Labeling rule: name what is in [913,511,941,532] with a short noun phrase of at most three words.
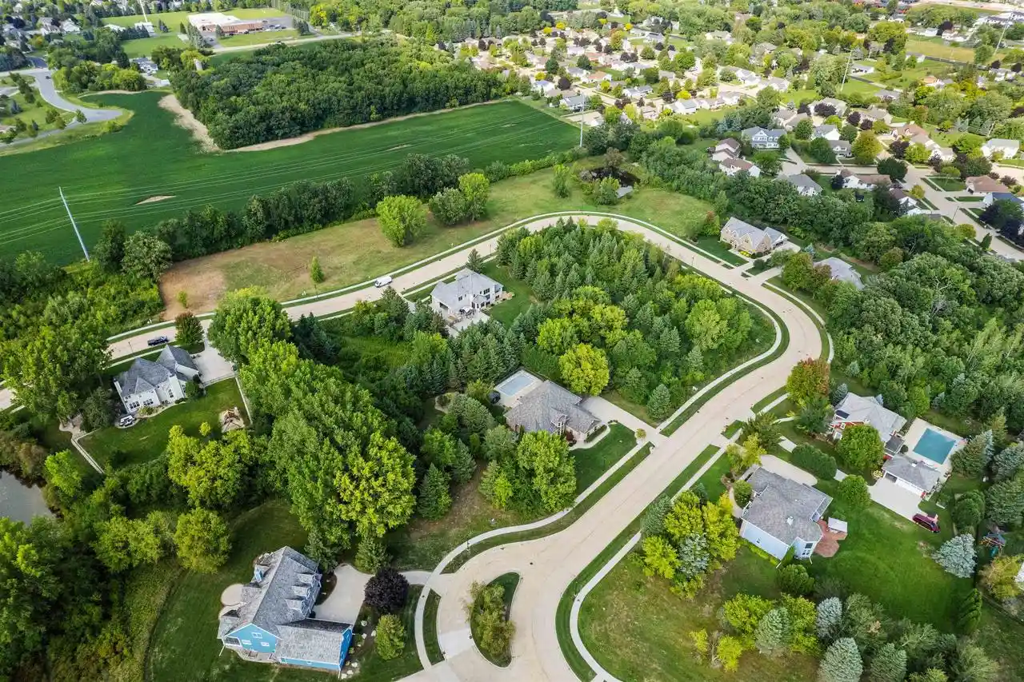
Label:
car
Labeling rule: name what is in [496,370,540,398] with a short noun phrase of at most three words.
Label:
swimming pool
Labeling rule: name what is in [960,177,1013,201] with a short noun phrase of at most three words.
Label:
house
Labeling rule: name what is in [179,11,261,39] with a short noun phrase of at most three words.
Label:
building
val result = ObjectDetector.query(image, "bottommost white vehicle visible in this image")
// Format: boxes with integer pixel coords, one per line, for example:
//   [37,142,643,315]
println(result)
[374,274,393,287]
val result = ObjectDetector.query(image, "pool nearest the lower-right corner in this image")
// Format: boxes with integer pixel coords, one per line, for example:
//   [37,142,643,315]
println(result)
[911,426,958,466]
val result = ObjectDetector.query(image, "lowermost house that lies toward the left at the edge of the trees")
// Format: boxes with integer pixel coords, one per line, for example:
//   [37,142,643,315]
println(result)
[212,544,353,672]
